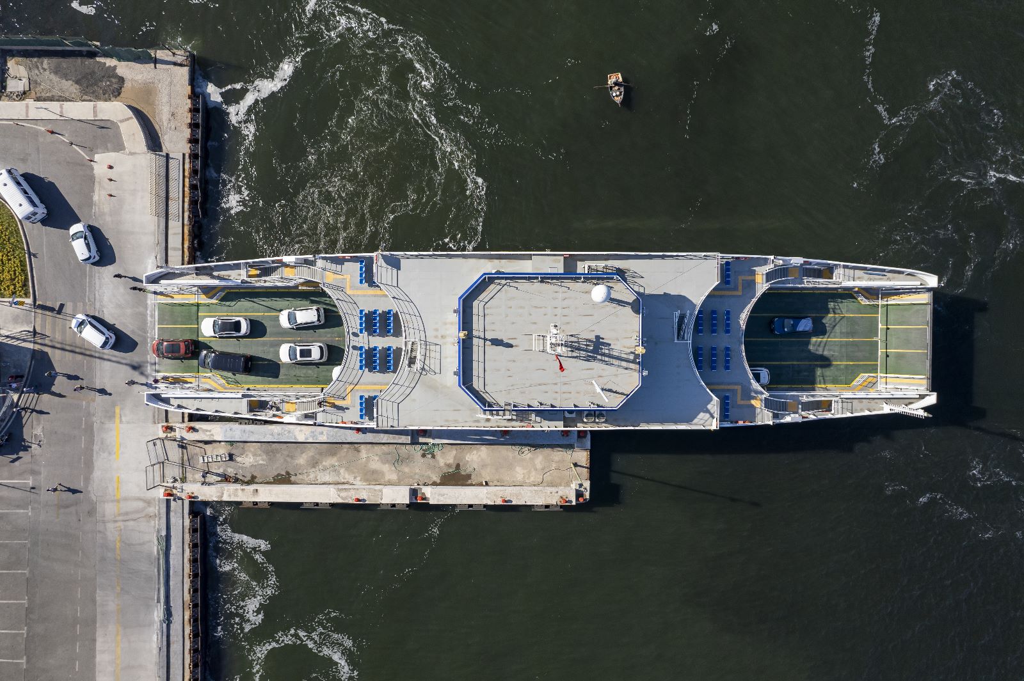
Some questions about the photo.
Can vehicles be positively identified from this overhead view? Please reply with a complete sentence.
Yes, a vehicle can be made out from above.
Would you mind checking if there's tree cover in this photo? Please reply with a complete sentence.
No, tree cover can't be seen anywhere here.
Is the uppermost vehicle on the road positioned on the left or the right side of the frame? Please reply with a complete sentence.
It is on the left.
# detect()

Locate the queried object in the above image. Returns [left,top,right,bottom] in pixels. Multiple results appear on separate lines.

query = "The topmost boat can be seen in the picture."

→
[592,70,632,106]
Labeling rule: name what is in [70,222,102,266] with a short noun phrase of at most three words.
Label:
car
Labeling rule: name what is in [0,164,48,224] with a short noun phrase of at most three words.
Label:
vehicle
